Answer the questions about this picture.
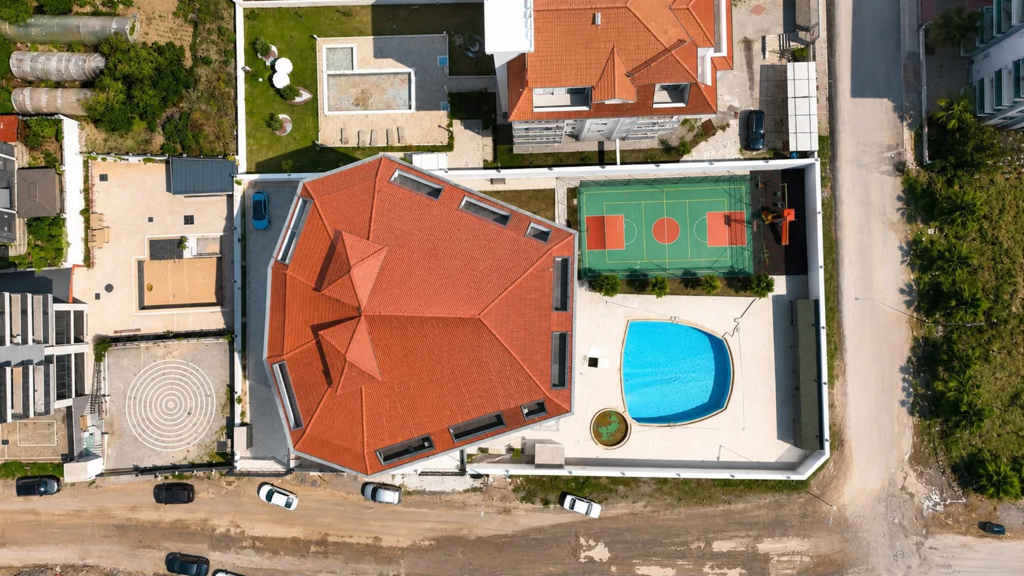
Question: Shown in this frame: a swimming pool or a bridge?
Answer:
swimming pool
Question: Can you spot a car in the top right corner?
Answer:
Yes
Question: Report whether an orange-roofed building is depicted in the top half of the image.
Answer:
Yes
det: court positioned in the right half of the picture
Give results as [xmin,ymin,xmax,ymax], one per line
[580,174,753,279]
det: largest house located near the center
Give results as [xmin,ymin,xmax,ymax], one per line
[264,154,578,477]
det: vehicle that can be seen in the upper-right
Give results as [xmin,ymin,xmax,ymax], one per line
[745,108,767,152]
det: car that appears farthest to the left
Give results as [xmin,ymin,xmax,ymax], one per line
[14,475,64,498]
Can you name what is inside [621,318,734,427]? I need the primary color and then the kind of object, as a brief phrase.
blue swimming pool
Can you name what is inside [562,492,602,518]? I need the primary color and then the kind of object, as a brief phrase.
white car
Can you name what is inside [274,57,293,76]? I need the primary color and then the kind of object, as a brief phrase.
white umbrella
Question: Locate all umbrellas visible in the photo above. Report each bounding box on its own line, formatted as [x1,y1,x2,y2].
[272,72,291,89]
[274,57,293,76]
